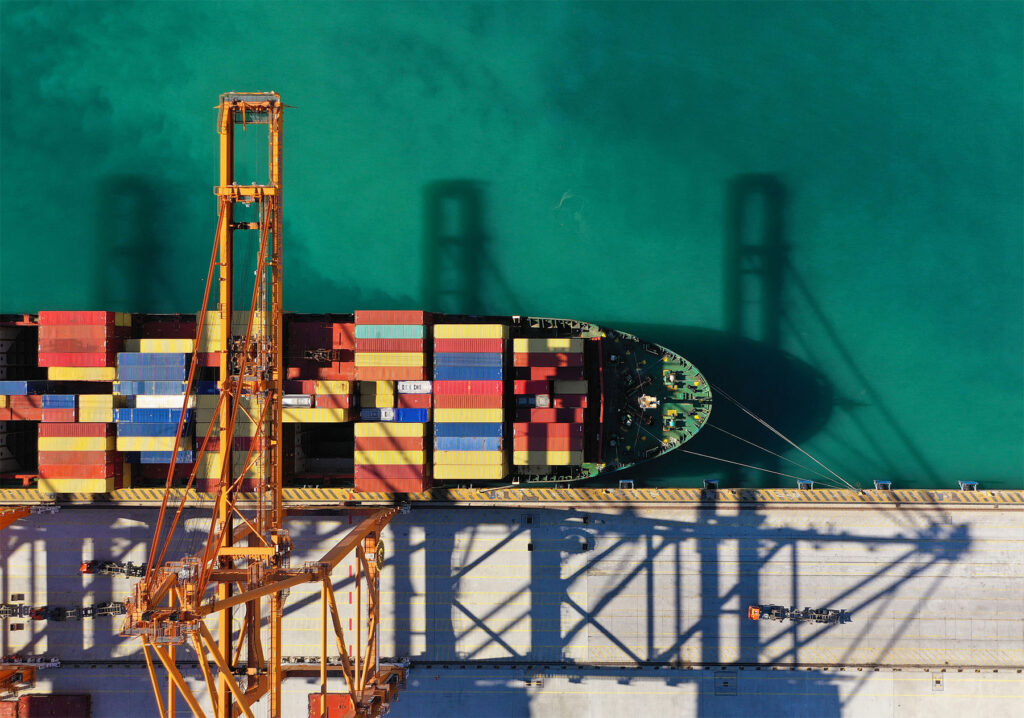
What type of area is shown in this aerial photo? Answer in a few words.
port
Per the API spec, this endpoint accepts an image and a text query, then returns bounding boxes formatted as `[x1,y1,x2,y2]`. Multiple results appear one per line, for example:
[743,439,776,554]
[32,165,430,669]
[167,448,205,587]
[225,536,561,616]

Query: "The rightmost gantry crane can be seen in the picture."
[118,94,415,718]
